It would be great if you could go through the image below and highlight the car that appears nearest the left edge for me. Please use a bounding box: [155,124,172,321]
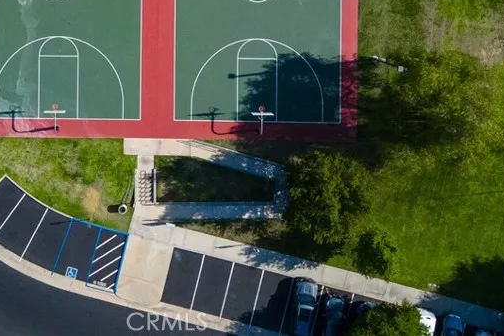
[288,279,319,335]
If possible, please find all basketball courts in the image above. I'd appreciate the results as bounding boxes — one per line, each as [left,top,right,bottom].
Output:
[0,0,159,139]
[158,0,358,142]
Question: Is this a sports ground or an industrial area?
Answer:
sports ground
